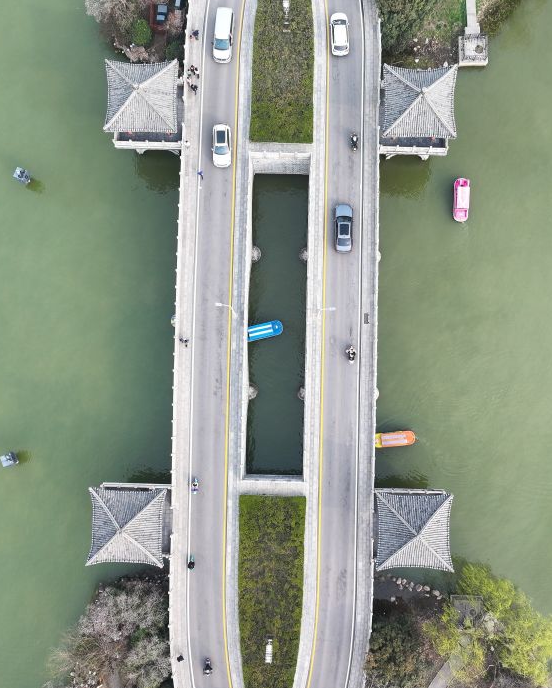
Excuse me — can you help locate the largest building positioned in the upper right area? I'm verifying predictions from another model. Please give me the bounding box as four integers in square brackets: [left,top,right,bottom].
[380,63,457,153]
